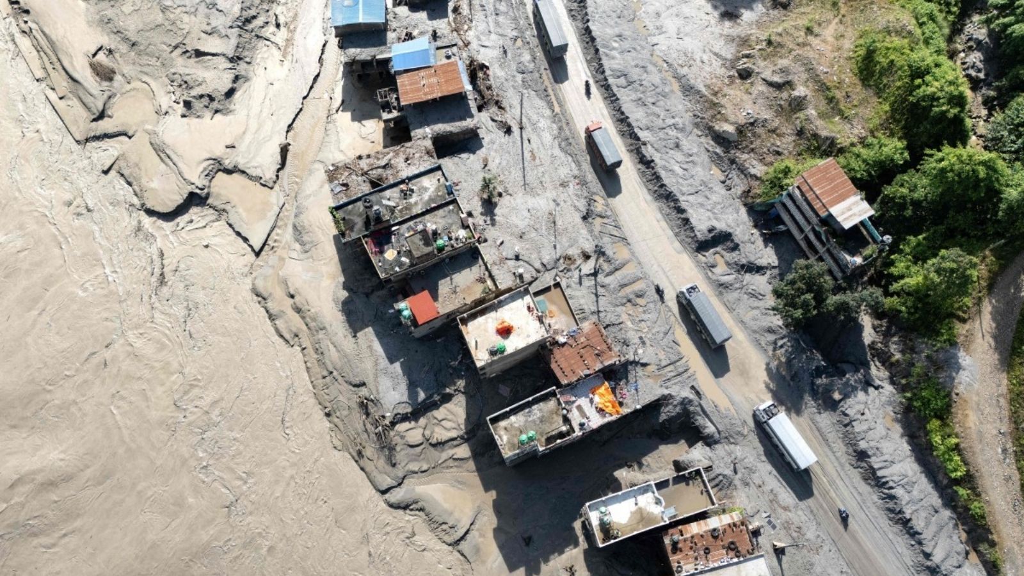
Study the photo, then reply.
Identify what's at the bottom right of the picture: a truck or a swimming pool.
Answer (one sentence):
You can see a truck at the bottom right of the picture.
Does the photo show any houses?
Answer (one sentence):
Yes, there is a house in the image.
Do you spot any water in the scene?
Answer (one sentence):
Yes, some water is visible.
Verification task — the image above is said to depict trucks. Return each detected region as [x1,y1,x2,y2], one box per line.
[528,0,569,63]
[675,282,734,352]
[581,118,624,178]
[747,396,818,472]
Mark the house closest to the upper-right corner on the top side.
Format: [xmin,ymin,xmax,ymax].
[771,158,882,284]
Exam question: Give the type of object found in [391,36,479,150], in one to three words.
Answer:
house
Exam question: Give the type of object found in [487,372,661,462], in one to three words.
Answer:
house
